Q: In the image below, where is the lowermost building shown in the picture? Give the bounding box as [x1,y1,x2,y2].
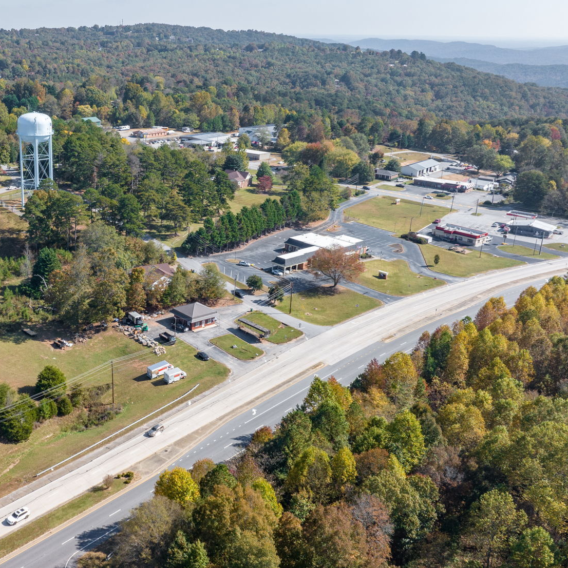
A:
[171,302,219,331]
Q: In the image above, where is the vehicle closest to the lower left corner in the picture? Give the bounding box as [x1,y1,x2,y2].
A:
[4,502,32,523]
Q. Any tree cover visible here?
Yes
